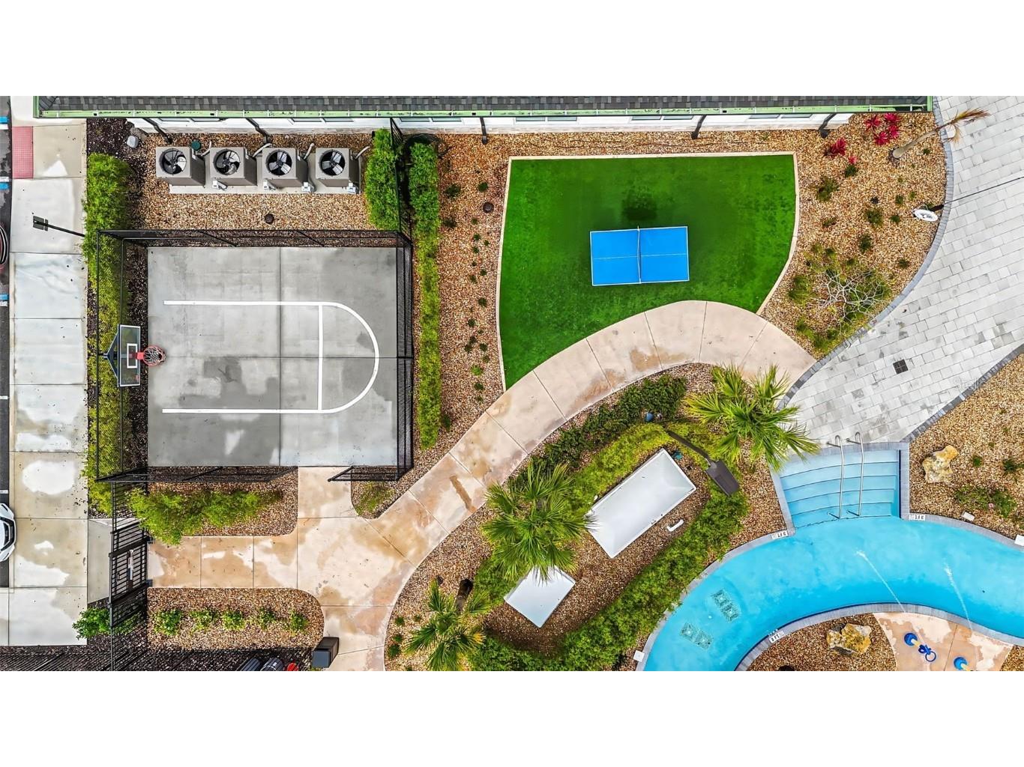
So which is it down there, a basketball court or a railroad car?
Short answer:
basketball court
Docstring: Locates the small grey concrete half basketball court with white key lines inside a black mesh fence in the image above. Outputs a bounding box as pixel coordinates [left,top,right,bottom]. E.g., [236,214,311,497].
[147,247,410,466]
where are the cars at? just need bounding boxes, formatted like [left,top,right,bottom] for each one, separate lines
[0,498,19,564]
[0,224,9,274]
